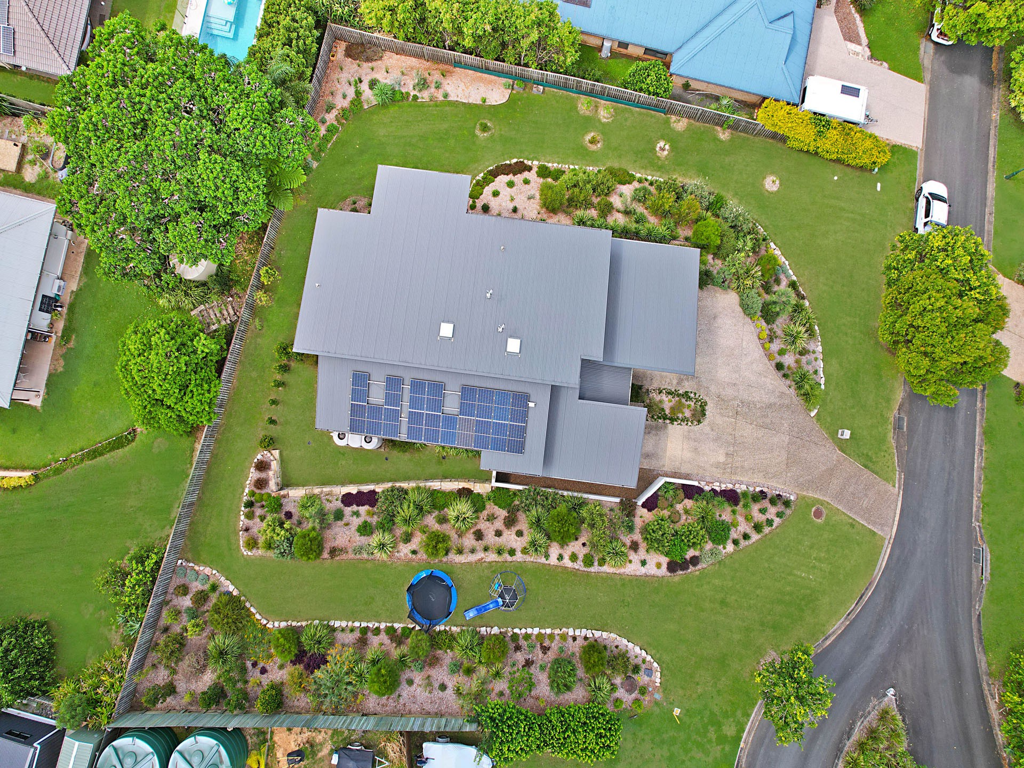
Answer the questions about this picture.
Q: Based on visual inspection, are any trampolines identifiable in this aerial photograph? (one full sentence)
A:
Yes, the photo shows a trampoline.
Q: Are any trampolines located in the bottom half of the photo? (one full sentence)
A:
Yes, a trampoline is visible in the bottom half of the photo.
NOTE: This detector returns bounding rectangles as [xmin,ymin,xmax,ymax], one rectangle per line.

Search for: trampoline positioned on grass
[402,569,457,632]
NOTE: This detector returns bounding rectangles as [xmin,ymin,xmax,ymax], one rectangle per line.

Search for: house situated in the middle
[292,163,701,490]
